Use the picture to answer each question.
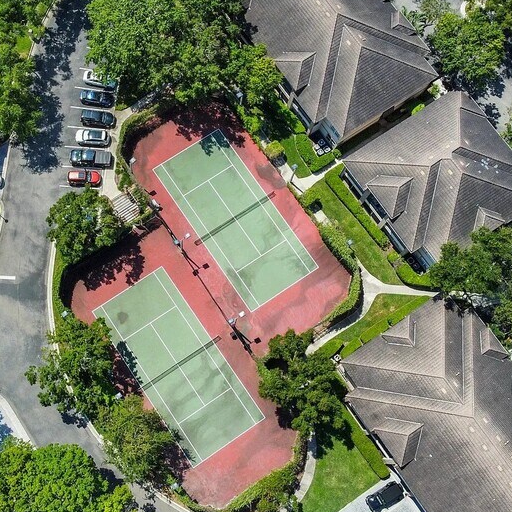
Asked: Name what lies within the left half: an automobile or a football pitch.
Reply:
automobile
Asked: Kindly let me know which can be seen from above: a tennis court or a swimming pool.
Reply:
tennis court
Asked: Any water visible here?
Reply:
No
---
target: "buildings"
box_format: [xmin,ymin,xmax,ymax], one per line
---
[213,0,438,150]
[338,296,512,512]
[342,91,512,269]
